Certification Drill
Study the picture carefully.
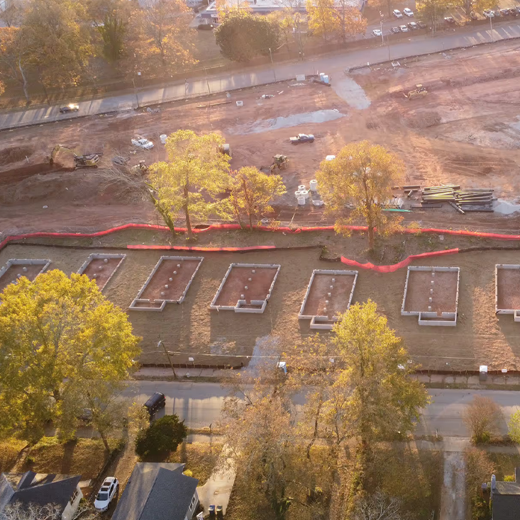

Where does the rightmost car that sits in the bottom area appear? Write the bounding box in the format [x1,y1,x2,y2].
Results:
[131,389,164,419]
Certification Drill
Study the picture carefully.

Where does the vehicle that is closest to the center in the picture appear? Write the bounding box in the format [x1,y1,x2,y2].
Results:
[259,153,296,176]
